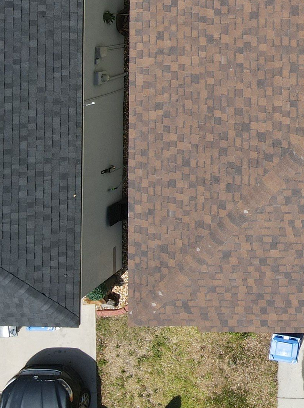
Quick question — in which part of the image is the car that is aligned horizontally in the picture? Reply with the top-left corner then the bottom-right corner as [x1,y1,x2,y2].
[1,363,96,408]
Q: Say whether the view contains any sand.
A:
No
